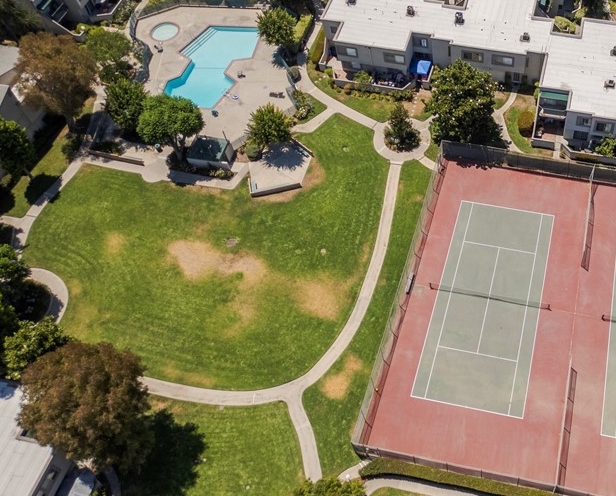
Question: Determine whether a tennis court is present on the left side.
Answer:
No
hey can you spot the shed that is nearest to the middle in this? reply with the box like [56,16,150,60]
[187,132,237,174]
